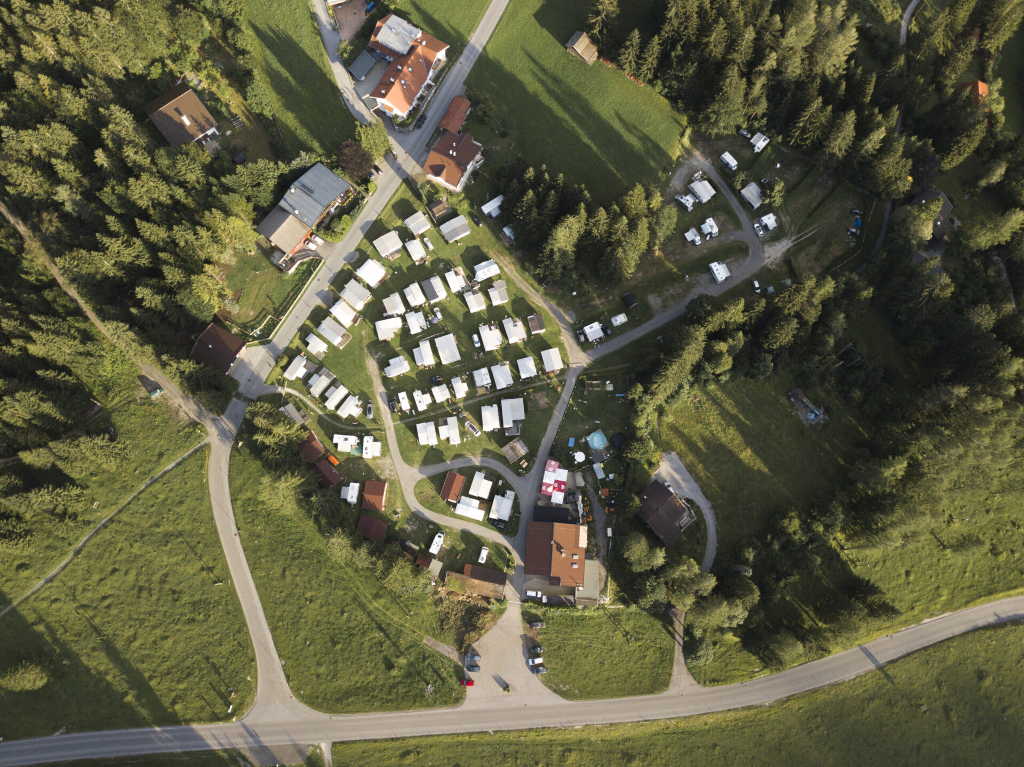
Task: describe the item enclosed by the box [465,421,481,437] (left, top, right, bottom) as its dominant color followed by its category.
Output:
white vehicle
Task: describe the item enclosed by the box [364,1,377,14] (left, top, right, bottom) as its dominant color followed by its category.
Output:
blue vehicle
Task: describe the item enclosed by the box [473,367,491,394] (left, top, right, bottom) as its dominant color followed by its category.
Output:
white camper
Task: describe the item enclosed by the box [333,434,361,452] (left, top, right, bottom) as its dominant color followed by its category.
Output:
white camper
